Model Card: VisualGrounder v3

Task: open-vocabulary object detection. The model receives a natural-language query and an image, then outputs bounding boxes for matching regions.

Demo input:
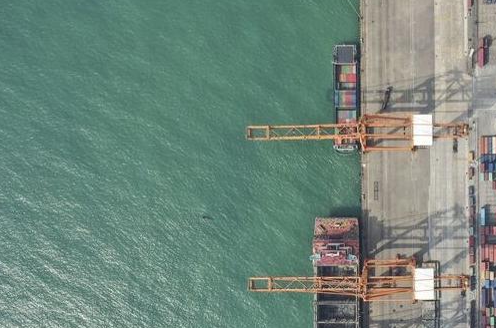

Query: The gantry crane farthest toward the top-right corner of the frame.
[247,112,468,156]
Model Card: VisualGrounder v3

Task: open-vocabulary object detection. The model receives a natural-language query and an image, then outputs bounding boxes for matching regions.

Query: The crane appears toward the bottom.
[248,252,469,303]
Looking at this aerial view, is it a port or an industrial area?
port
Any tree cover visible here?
No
